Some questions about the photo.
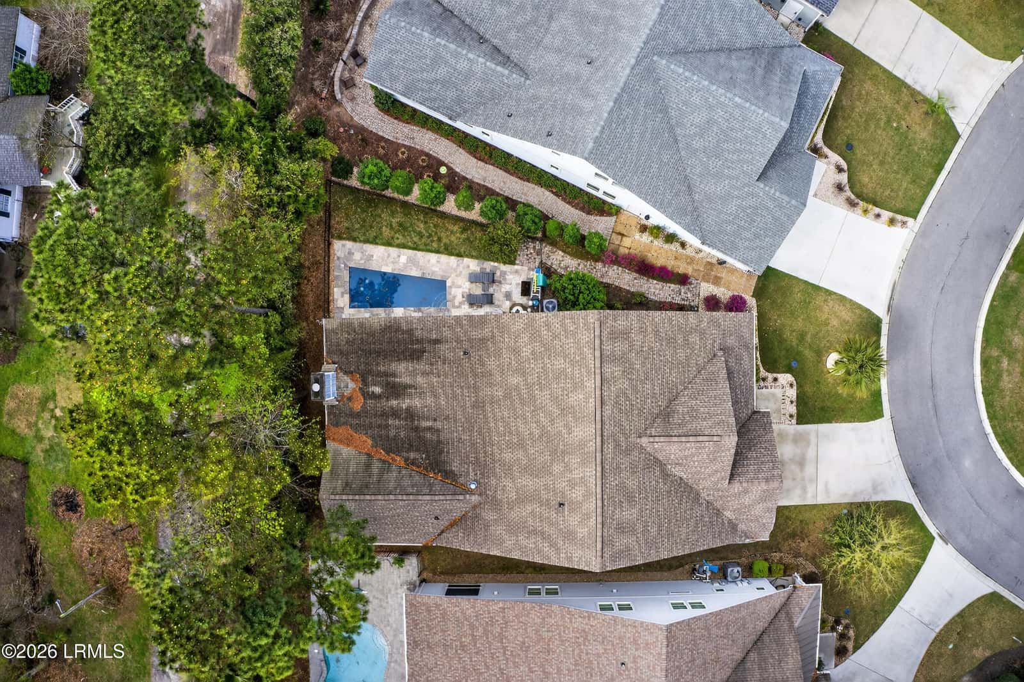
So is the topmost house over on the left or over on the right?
right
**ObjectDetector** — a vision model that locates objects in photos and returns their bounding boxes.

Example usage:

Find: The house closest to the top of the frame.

[765,0,839,31]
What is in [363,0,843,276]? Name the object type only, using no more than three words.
house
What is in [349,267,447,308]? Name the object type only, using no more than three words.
swimming pool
